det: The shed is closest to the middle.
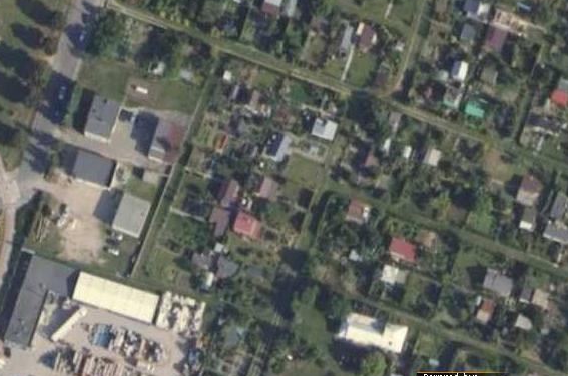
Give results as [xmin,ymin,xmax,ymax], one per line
[257,175,281,199]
